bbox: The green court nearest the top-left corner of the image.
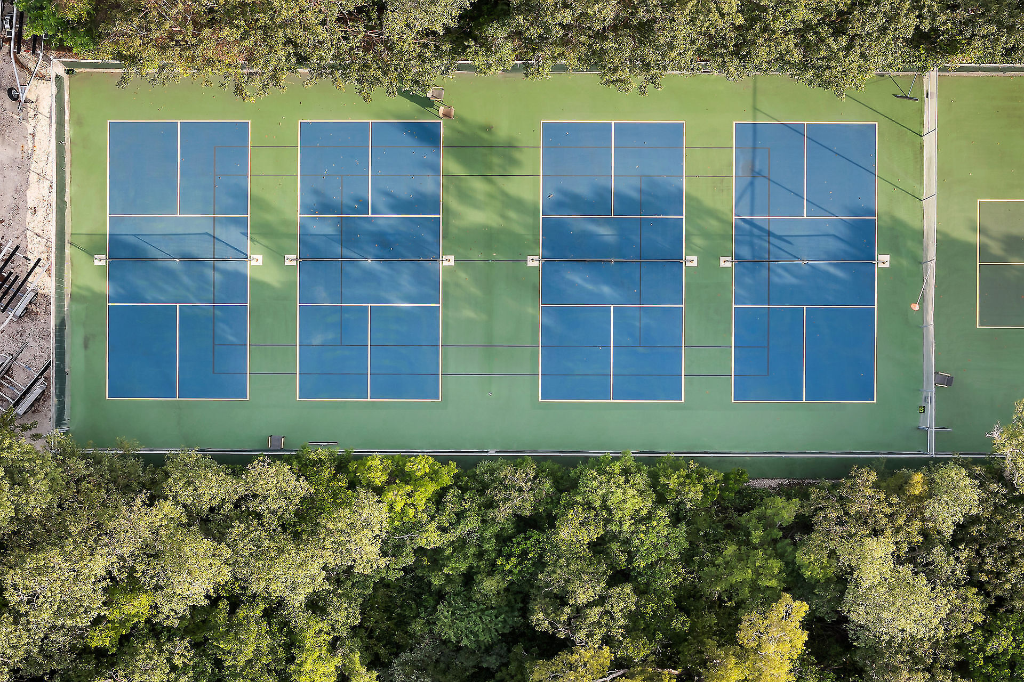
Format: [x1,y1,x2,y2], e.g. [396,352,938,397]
[70,71,921,478]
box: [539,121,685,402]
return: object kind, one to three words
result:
sports court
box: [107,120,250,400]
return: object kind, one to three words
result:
sports court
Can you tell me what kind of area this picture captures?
sports ground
